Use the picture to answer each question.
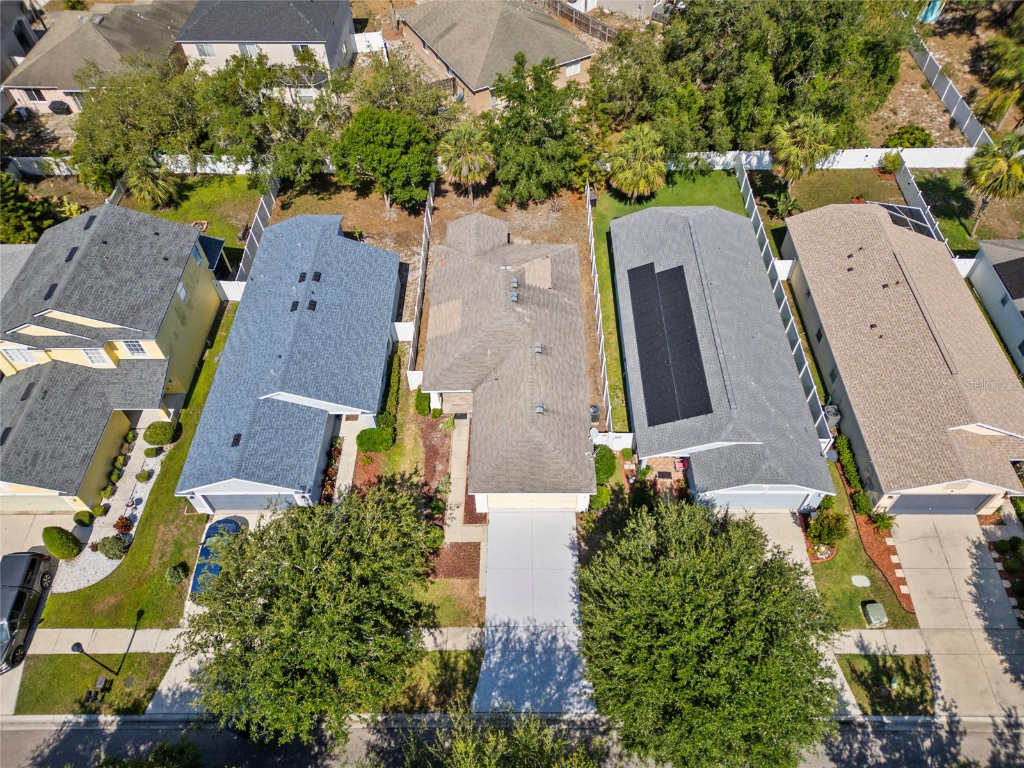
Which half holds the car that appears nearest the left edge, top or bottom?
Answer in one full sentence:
The car that appears nearest the left edge is in the bottom half of the image.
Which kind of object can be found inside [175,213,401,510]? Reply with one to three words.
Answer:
house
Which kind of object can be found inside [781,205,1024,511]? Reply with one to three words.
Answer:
house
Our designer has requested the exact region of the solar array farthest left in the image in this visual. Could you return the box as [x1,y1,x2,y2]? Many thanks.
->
[626,261,714,427]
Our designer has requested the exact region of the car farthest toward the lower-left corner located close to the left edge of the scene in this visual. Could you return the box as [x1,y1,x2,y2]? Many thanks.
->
[0,565,52,663]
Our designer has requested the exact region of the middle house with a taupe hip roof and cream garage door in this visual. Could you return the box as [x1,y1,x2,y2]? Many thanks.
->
[418,213,600,510]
